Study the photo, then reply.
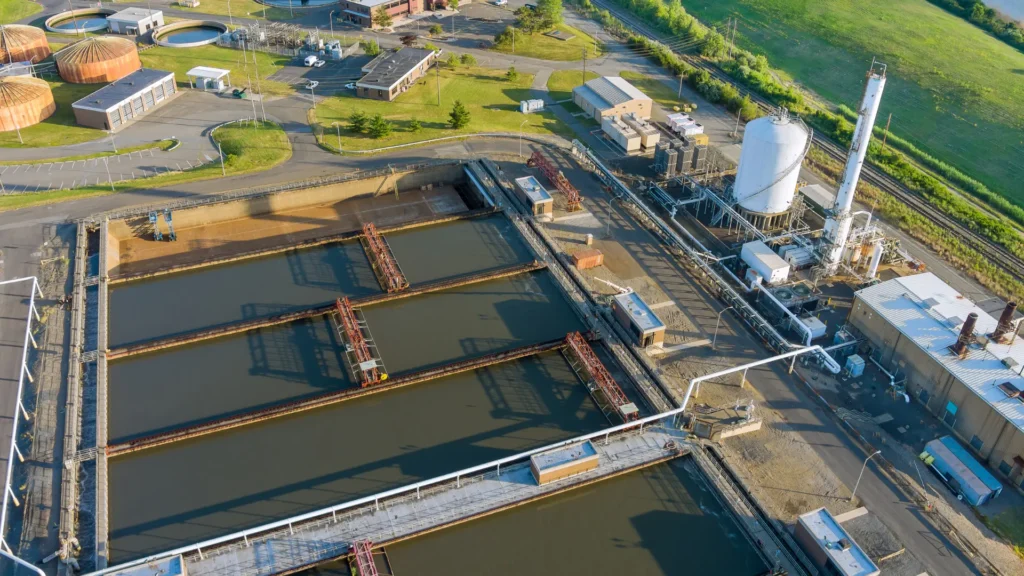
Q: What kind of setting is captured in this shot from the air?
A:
industrial area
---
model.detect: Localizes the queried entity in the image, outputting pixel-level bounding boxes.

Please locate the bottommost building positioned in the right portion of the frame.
[792,506,883,576]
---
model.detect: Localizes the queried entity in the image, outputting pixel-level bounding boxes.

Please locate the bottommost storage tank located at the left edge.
[0,70,55,131]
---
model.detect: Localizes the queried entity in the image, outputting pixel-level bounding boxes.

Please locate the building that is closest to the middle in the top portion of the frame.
[514,176,556,229]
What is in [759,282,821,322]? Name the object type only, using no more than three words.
cooling tower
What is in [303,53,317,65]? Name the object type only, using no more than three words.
vehicle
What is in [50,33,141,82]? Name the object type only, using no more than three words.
storage tank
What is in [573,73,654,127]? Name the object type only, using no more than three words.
building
